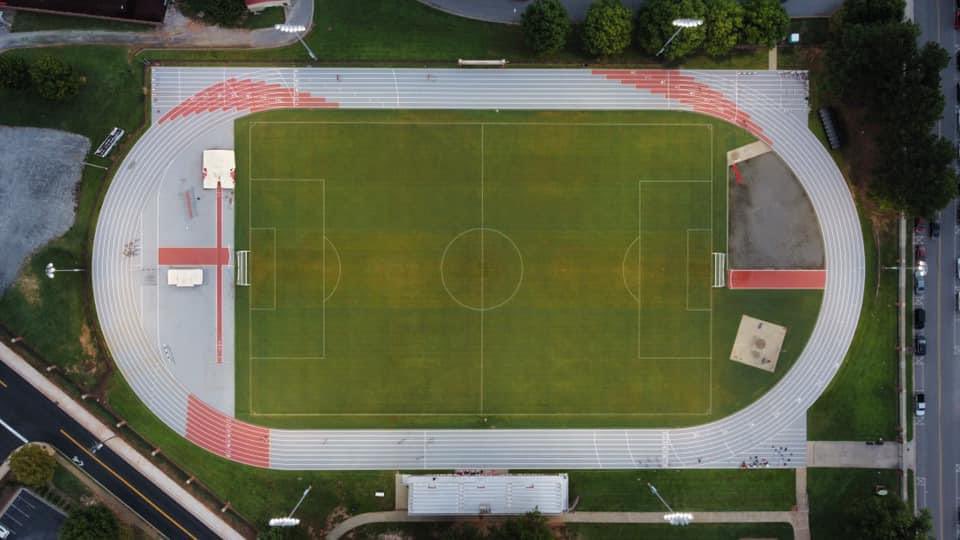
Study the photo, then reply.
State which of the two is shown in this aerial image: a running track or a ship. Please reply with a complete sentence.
The image shows a running track.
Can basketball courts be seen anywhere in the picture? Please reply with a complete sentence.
No, there appears to be no basketball court in this shot.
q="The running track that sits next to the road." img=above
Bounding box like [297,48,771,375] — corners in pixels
[94,67,868,472]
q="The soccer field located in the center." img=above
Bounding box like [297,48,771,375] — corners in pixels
[235,110,826,428]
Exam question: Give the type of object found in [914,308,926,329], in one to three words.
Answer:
vehicle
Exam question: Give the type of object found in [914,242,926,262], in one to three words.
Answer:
vehicle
